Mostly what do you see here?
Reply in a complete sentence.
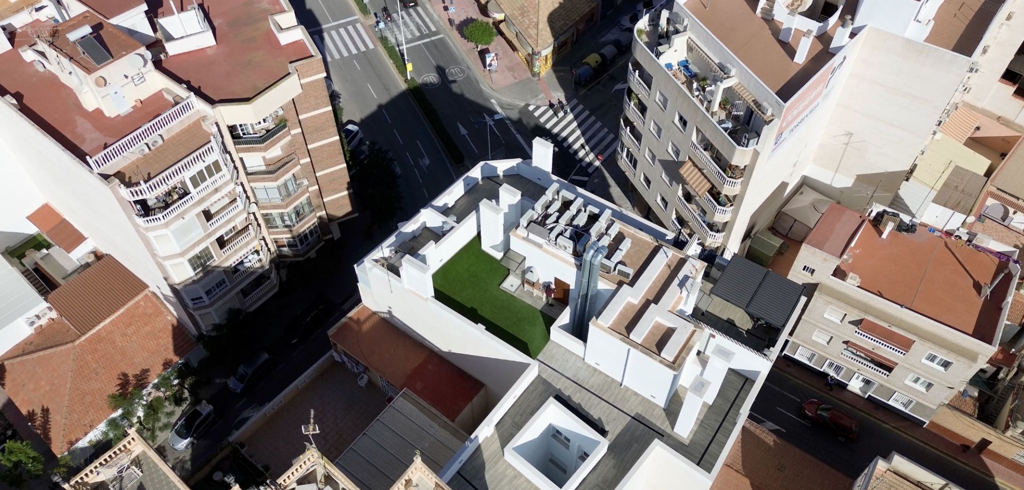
The scene is dominated by buildings.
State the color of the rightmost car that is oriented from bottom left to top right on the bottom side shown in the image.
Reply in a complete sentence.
From above, the rightmost car that is oriented from bottom left to top right on the bottom side appears black.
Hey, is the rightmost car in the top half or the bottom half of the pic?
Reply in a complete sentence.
The bottom half of the photo is where the rightmost car is.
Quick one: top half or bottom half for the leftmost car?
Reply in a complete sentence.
The leftmost car is in the bottom half of the image.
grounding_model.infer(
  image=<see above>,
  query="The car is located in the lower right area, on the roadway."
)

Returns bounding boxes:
[798,394,866,443]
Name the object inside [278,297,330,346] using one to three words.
car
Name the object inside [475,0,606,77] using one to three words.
building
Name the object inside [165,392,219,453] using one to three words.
car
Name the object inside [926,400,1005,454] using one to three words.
house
